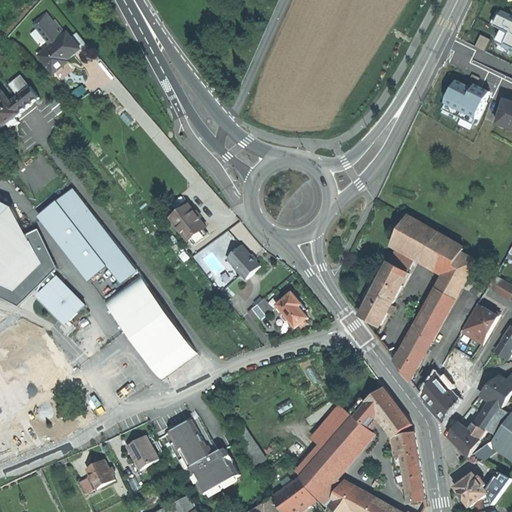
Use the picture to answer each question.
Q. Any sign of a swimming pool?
Yes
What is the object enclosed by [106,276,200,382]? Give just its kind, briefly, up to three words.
building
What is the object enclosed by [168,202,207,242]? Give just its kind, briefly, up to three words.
house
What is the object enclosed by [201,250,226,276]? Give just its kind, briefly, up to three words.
swimming pool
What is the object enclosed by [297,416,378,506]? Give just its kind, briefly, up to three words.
barn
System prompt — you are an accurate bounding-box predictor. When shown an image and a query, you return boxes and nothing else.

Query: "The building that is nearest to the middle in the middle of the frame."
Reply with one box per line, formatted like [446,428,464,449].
[228,242,260,280]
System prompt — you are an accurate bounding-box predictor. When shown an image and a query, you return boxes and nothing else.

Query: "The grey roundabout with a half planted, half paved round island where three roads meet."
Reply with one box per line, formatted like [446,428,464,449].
[209,119,394,266]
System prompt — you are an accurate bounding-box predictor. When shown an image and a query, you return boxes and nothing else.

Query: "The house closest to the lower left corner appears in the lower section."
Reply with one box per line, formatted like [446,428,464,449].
[80,459,118,496]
